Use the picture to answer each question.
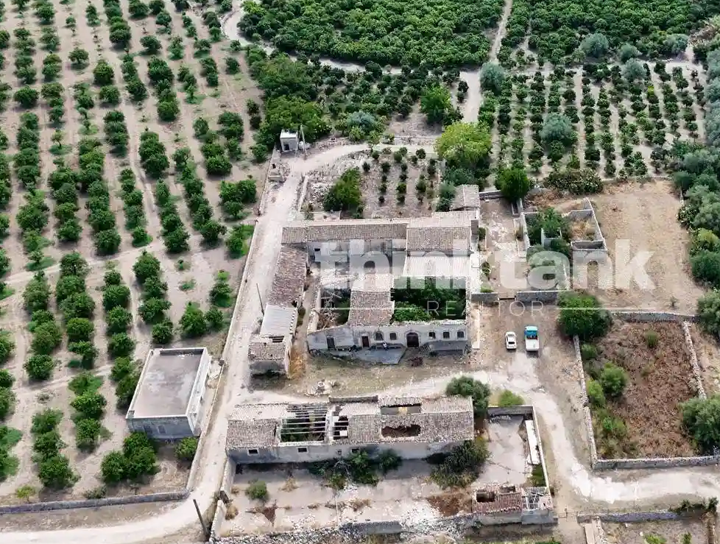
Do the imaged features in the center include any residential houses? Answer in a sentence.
Yes, a residential house is visible in the center.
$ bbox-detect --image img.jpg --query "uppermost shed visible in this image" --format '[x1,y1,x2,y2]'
[278,128,299,152]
